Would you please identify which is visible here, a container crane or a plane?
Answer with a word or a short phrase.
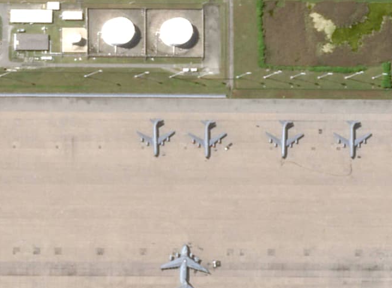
plane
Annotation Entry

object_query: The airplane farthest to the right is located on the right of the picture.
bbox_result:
[333,121,372,159]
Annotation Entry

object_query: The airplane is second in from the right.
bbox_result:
[265,121,304,159]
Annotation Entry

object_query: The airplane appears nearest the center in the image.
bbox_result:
[188,121,227,160]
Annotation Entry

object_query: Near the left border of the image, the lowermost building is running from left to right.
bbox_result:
[15,35,49,51]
